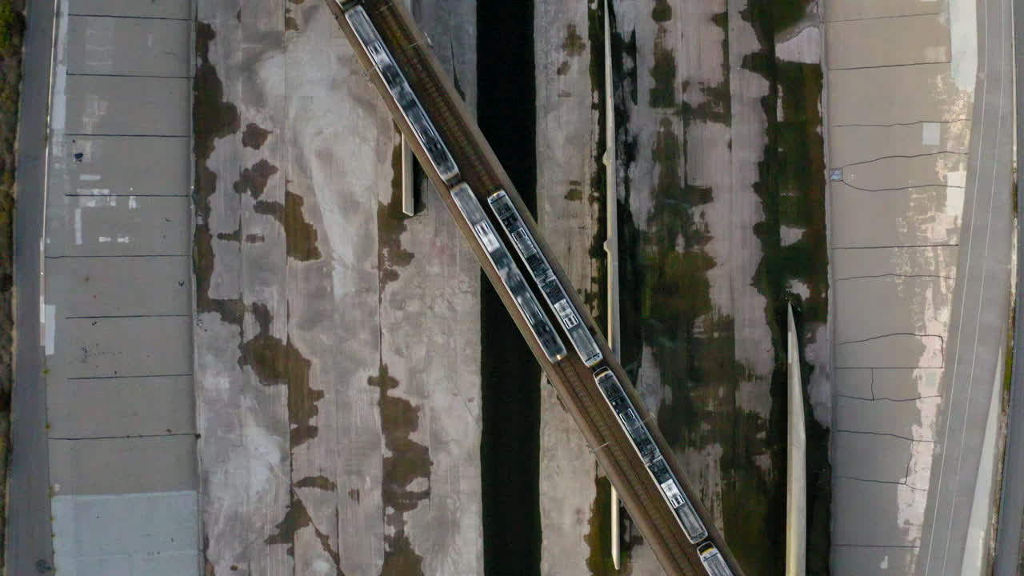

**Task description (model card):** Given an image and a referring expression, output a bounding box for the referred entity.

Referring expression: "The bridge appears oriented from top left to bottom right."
[326,0,806,576]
